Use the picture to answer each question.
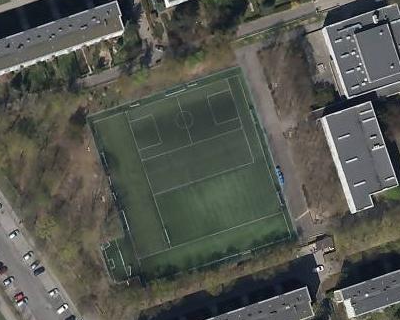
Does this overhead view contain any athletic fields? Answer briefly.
Yes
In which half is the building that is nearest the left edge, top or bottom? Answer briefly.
top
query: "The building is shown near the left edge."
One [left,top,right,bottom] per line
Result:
[0,1,124,75]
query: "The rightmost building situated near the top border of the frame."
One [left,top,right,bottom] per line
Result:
[322,4,400,98]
